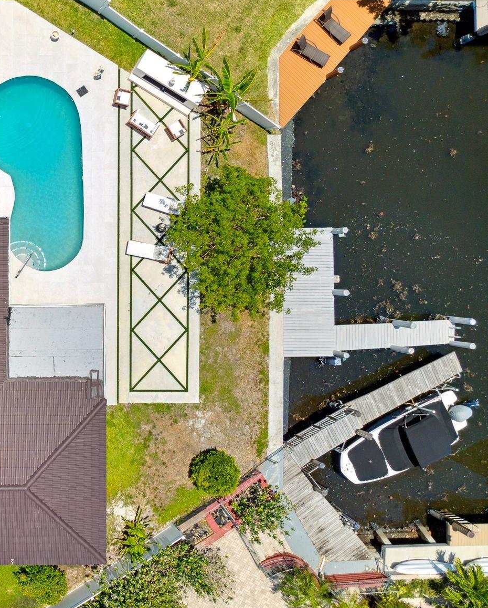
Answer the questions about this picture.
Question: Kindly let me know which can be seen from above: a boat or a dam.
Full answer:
Looking from above, you can make out a boat.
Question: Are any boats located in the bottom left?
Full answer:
No, no boat appears in the bottom left.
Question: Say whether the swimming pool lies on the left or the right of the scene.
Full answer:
The swimming pool sits on the left side.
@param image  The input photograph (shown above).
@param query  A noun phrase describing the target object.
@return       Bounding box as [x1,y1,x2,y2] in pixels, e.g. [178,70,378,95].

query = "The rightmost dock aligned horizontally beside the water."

[443,523,488,543]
